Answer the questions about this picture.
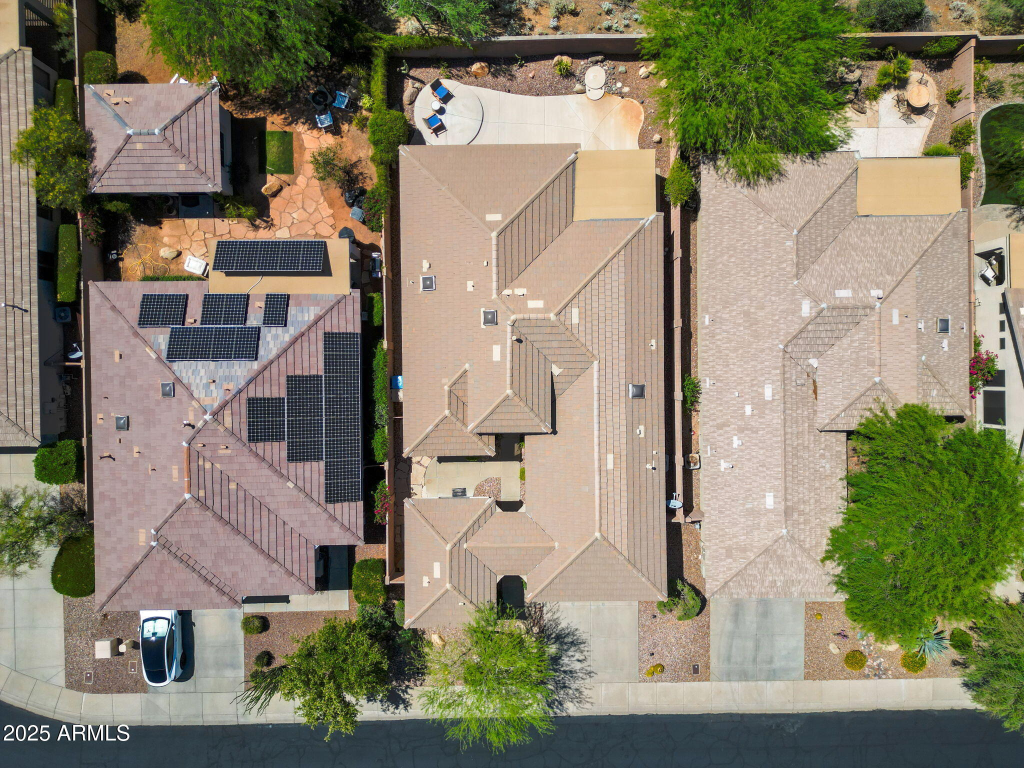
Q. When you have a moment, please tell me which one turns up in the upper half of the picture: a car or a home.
home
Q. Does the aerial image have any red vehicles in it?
No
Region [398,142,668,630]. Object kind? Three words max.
house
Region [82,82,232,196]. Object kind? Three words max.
house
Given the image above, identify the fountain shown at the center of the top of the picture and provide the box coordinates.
[585,70,605,104]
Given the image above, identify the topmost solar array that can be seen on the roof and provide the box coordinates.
[213,241,324,271]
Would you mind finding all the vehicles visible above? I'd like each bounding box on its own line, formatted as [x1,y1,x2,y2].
[137,611,187,686]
